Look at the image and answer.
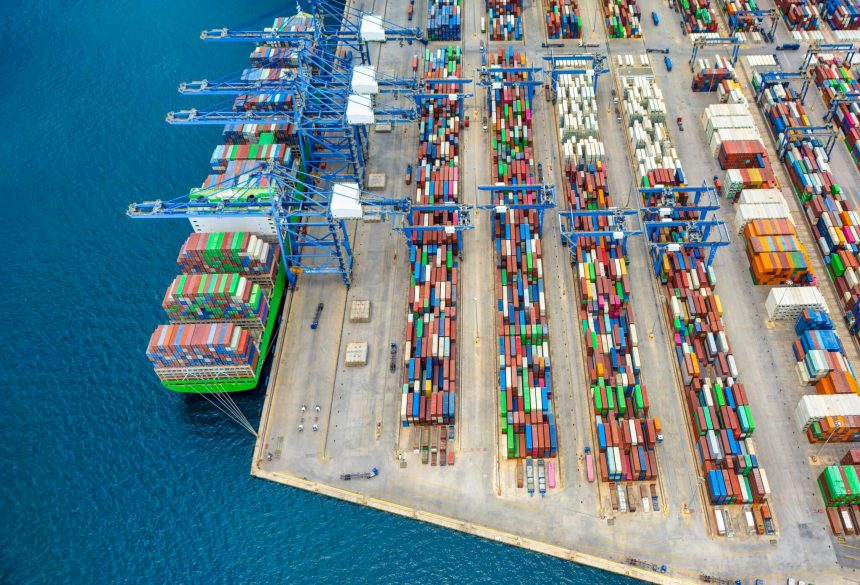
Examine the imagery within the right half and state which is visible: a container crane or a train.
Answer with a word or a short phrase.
container crane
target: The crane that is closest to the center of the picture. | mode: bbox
[395,189,477,255]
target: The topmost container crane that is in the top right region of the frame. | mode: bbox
[729,8,784,44]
